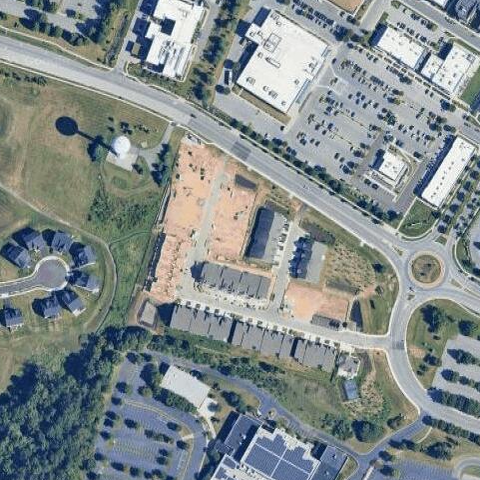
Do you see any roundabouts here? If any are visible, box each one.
[396,238,459,300]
